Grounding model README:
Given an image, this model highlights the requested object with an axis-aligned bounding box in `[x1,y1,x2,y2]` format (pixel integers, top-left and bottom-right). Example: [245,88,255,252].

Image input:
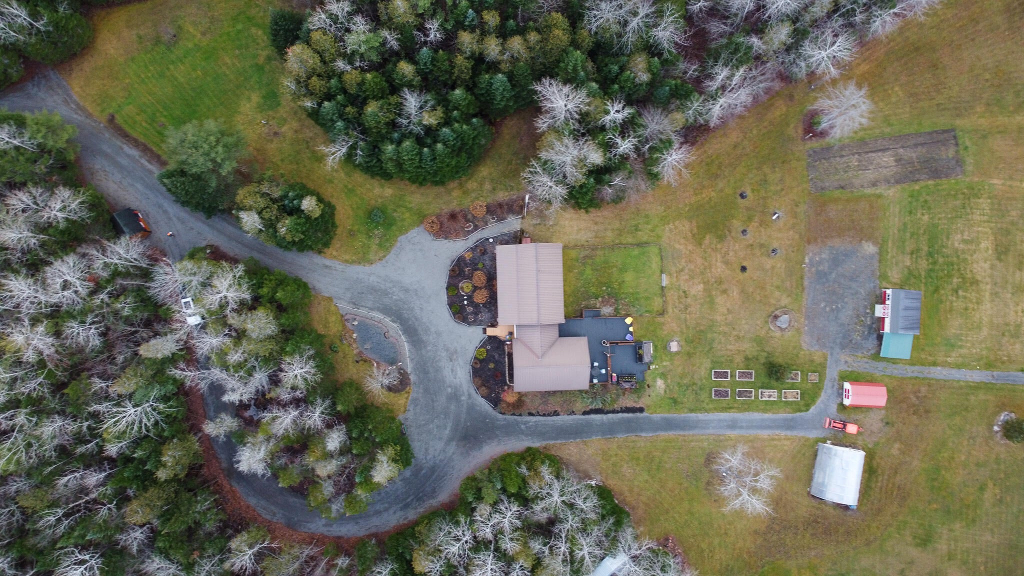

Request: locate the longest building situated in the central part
[496,237,591,392]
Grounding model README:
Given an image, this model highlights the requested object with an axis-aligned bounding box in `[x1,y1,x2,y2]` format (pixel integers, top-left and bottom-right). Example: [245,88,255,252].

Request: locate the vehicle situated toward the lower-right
[822,415,863,437]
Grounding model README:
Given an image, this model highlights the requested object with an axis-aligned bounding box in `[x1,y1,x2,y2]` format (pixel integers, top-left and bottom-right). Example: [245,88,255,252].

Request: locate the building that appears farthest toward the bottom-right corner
[811,445,867,505]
